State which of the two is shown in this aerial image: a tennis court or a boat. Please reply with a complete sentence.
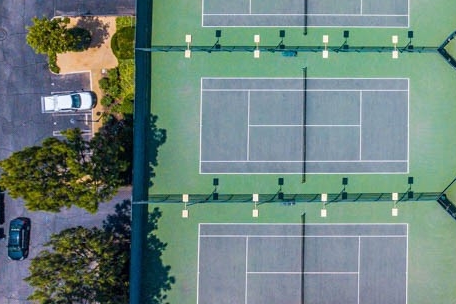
Visible in the photo is a tennis court.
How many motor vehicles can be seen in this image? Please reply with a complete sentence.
There are 2 motor vehicles in the image.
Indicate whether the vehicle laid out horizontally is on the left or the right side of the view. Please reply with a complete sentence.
The vehicle laid out horizontally appears in the left half of the scene.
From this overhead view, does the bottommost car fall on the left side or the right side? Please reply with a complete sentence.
The bottommost car sits on the left side.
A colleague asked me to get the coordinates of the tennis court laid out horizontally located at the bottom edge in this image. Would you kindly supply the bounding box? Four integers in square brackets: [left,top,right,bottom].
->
[140,201,456,304]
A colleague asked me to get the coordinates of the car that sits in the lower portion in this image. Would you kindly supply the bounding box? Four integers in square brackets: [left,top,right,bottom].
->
[4,216,29,260]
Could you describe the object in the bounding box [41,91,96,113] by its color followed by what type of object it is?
white vehicle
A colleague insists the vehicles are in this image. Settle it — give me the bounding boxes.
[4,216,29,260]
[41,91,96,113]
